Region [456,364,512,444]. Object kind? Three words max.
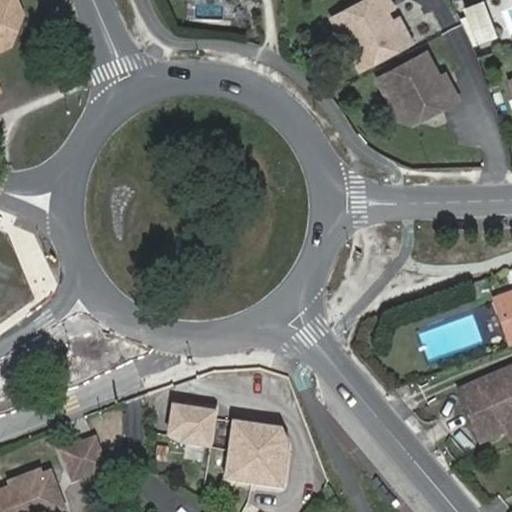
house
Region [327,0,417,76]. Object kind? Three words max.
house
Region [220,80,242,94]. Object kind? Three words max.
vehicle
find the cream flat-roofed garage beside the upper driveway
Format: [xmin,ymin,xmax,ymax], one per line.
[461,2,498,47]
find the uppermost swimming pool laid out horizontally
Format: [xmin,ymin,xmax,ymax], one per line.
[195,4,224,19]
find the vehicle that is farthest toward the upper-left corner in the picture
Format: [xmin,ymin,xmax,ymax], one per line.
[168,66,190,78]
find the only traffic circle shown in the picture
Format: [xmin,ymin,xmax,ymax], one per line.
[48,60,346,358]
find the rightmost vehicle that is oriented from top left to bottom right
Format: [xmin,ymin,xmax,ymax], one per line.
[336,384,357,407]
